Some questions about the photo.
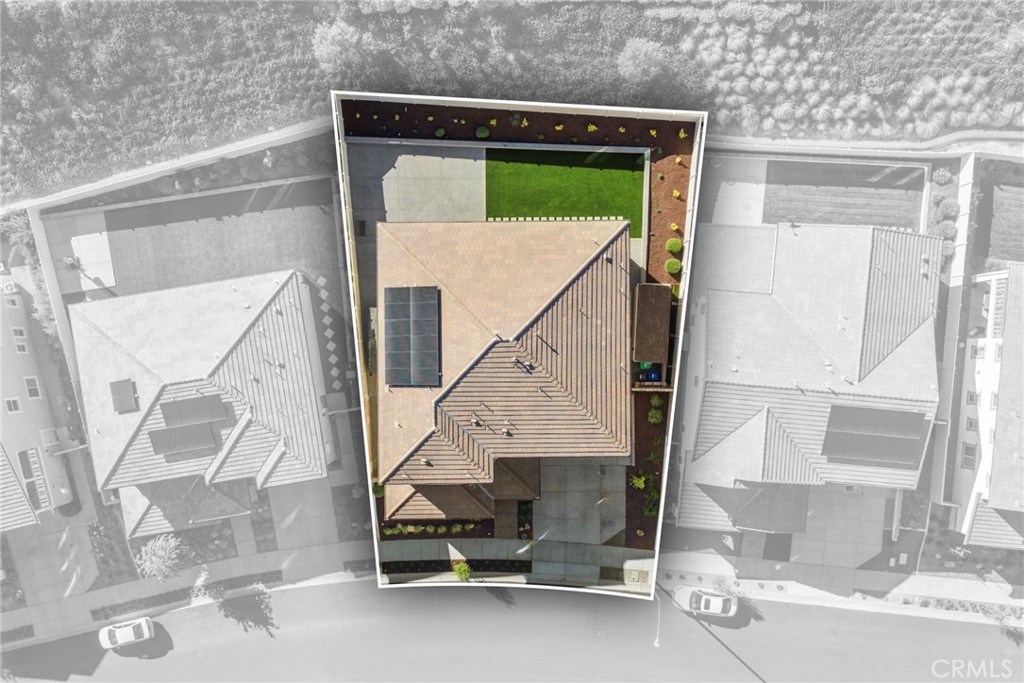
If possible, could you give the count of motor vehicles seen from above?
2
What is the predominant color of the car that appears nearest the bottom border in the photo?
white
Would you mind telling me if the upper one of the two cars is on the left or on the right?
right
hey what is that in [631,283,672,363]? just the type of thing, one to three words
shed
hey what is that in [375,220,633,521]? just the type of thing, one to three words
house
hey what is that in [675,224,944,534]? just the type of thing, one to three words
house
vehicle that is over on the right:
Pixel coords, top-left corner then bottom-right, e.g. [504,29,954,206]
[676,587,742,621]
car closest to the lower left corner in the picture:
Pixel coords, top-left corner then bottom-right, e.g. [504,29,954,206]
[94,618,153,655]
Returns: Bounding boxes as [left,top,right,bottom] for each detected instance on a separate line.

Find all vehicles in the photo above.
[94,618,153,655]
[676,587,742,621]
